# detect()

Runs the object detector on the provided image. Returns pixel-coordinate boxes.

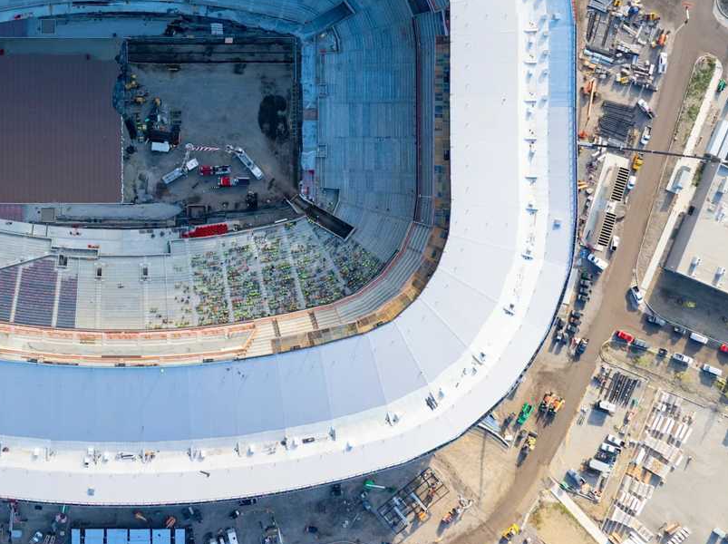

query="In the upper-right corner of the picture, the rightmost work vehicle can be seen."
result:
[714,78,727,91]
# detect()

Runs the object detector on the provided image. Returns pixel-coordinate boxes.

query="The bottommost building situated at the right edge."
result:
[662,162,728,293]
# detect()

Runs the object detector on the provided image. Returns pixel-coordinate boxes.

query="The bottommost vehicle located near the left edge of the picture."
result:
[28,529,44,544]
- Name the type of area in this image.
sports ground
